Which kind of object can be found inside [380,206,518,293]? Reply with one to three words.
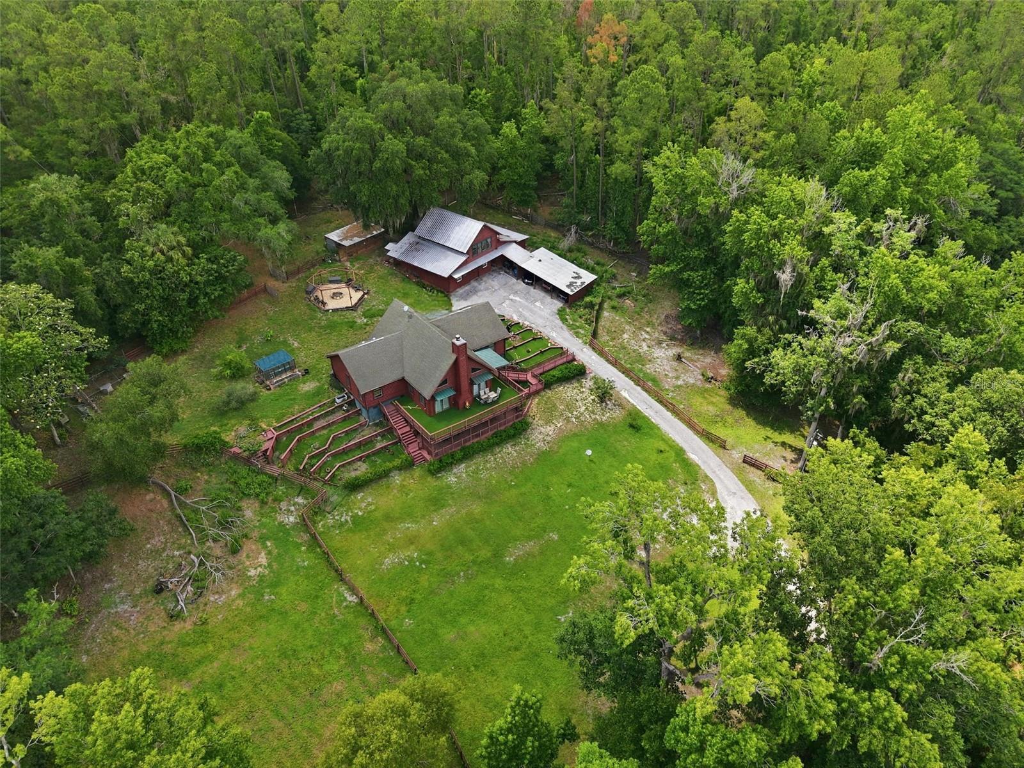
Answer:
barn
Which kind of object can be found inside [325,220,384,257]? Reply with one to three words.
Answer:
shed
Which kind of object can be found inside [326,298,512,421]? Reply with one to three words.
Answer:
house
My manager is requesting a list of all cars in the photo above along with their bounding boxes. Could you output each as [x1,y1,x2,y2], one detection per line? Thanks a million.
[524,273,542,285]
[558,292,569,303]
